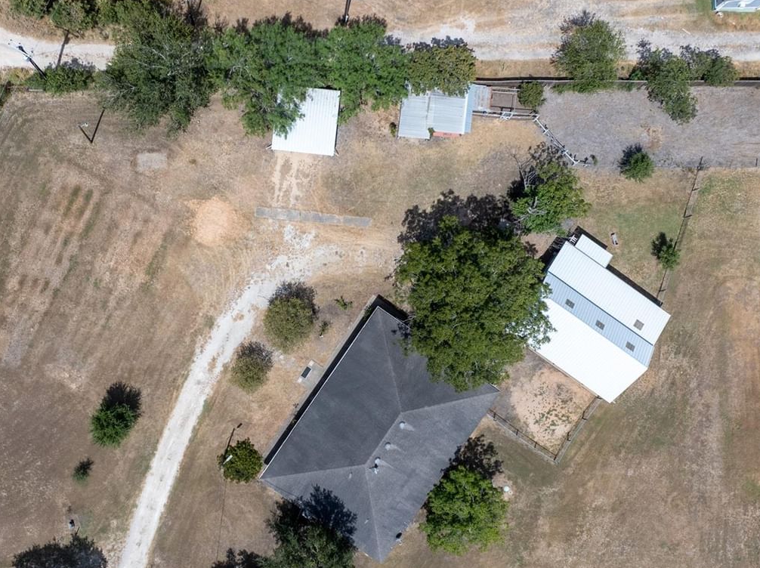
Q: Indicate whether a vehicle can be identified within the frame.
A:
No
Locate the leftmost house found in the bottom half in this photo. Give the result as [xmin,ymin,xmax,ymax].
[261,306,499,563]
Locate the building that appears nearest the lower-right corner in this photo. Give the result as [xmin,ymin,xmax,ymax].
[512,234,670,403]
